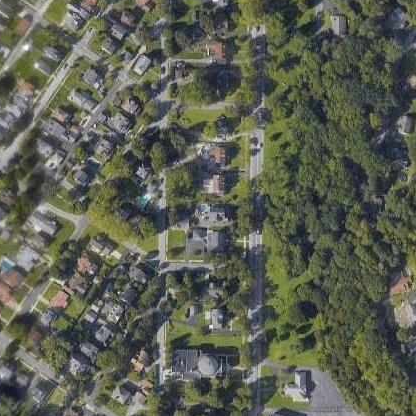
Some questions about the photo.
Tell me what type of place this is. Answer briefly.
residential area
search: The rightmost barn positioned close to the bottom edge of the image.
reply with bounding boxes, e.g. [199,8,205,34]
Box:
[284,370,308,402]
